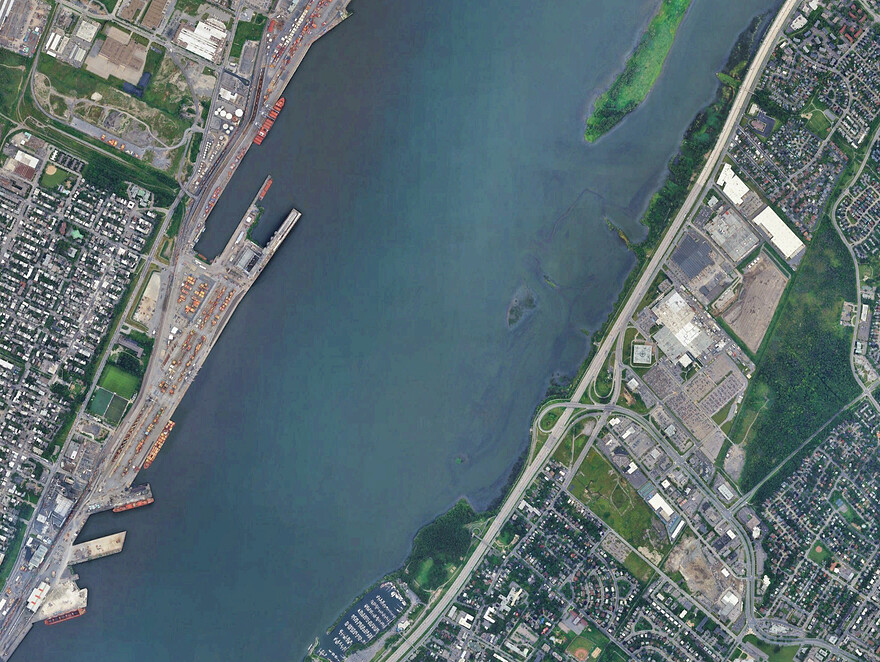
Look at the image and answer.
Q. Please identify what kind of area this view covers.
port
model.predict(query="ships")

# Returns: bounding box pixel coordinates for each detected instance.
[113,499,154,512]
[145,420,175,469]
[259,179,272,200]
[45,608,88,624]
[254,97,285,144]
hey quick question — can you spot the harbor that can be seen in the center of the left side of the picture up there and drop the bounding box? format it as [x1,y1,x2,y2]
[0,0,351,662]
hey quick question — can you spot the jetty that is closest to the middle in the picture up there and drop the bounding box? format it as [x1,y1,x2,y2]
[262,209,302,249]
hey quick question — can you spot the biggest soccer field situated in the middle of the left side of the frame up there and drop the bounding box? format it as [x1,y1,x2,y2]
[98,362,142,401]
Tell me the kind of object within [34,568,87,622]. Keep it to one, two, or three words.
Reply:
pier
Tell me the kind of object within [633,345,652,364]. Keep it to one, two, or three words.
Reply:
building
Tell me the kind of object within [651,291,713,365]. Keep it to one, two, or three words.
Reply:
building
